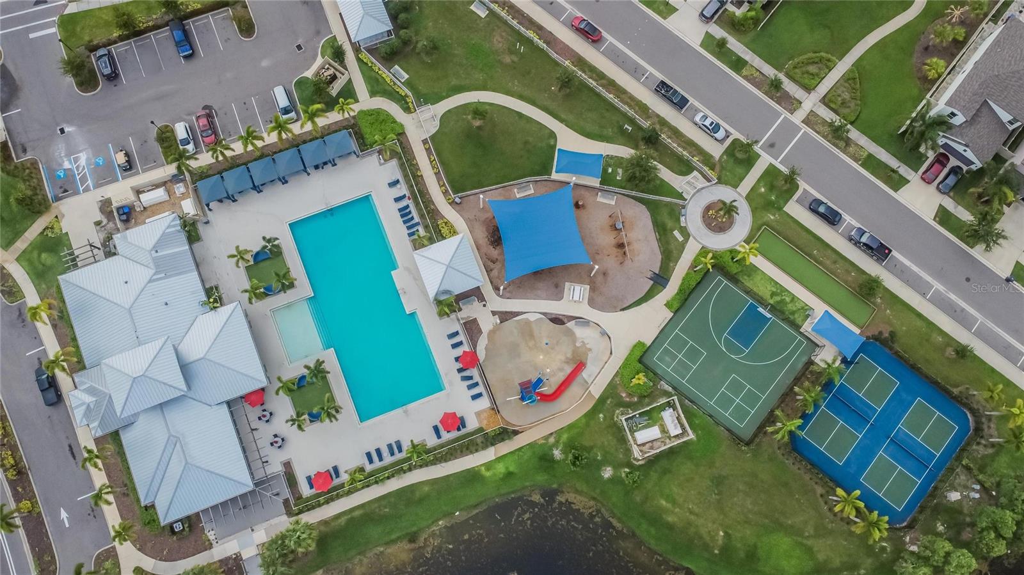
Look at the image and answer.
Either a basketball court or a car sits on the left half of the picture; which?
car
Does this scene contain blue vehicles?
Yes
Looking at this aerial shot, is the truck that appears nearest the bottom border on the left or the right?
left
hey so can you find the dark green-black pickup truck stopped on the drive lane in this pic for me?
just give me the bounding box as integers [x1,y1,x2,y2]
[31,365,63,411]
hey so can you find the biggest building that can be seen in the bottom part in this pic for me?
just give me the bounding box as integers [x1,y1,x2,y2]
[57,212,270,526]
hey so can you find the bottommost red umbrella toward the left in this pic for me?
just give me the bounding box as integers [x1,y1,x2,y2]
[311,470,334,493]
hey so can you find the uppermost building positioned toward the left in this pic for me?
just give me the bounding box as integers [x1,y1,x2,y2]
[338,0,396,50]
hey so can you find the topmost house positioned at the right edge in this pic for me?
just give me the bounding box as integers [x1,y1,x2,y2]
[927,7,1024,168]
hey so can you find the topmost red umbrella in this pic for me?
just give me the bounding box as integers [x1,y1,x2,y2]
[458,349,480,370]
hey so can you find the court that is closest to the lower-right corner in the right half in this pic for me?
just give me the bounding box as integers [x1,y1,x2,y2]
[861,398,958,511]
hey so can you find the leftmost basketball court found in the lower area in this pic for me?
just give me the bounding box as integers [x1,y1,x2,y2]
[641,267,812,444]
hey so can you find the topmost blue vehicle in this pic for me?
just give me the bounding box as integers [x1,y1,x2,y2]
[167,17,193,59]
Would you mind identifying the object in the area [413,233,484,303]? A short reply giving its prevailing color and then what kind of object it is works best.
white gazebo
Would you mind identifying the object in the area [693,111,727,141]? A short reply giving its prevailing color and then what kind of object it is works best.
white car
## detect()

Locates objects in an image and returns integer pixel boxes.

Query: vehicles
[698,0,726,23]
[31,365,63,411]
[174,120,197,155]
[94,47,119,82]
[652,77,692,111]
[271,83,299,122]
[196,109,220,147]
[167,17,193,59]
[693,111,727,141]
[848,226,895,263]
[935,164,967,195]
[113,153,132,176]
[920,151,952,183]
[807,198,844,227]
[569,15,604,43]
